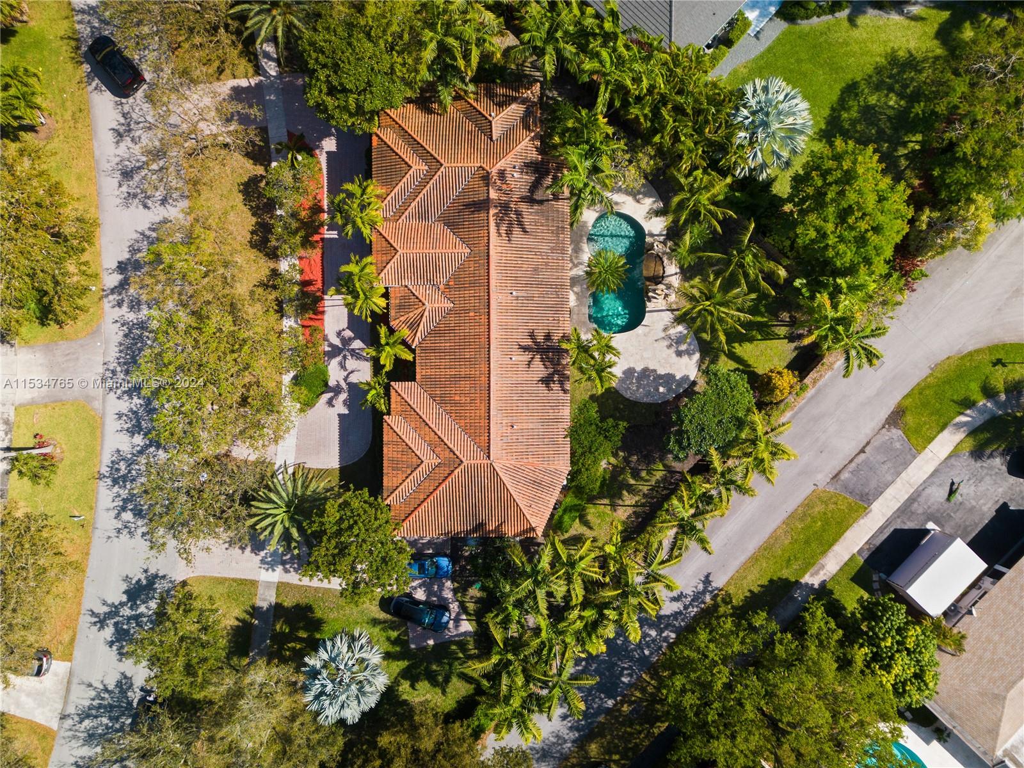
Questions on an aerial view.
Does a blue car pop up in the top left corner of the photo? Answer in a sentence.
No, the scene shows no blue car in the top left corner of the photo.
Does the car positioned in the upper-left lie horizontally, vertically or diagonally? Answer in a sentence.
The car positioned in the upper-left is laid out diagonally.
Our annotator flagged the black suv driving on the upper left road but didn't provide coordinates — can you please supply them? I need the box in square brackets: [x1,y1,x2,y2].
[90,35,146,102]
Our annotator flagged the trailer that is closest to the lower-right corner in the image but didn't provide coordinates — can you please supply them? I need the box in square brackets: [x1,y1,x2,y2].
[888,524,988,618]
